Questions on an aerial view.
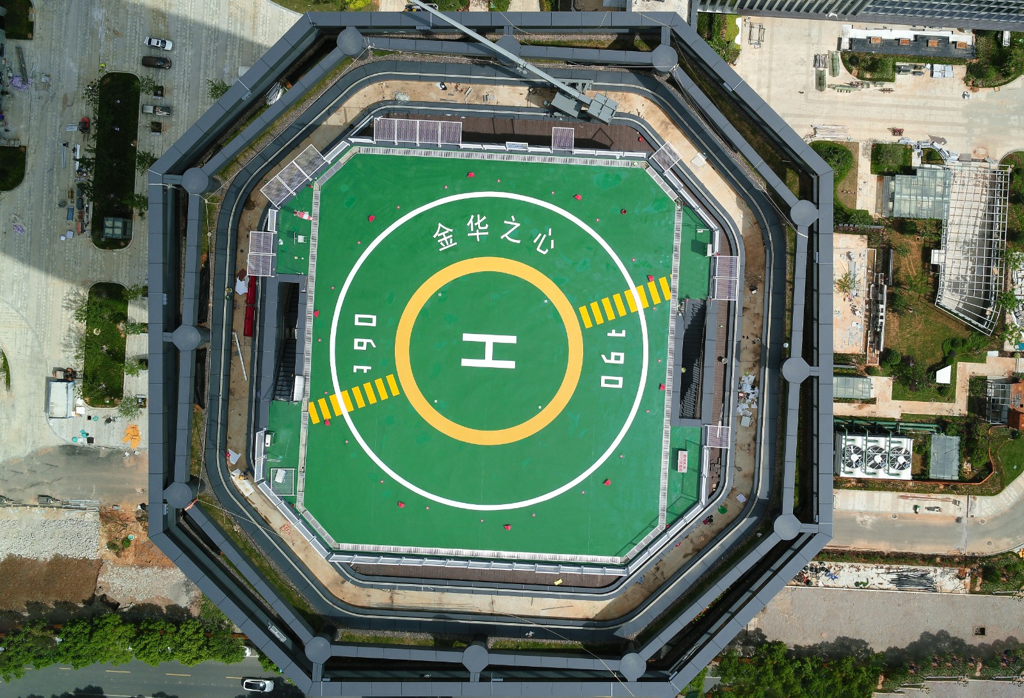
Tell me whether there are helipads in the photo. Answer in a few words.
Yes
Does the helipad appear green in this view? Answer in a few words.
Yes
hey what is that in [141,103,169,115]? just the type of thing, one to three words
vehicle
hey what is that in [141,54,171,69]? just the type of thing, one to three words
car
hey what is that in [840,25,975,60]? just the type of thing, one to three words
building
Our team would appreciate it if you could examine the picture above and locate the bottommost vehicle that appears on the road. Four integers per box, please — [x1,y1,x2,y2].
[245,677,276,692]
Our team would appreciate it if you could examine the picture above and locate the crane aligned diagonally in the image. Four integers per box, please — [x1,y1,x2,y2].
[407,0,618,126]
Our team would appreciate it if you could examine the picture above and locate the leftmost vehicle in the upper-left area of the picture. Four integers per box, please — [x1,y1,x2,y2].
[77,116,89,136]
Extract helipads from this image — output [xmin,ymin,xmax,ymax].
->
[246,117,738,579]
